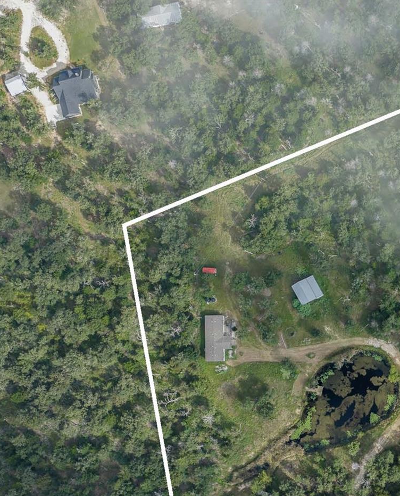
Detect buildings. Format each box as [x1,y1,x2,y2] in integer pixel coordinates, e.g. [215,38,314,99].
[291,276,326,304]
[139,2,183,30]
[205,315,235,361]
[5,76,30,98]
[52,67,101,119]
